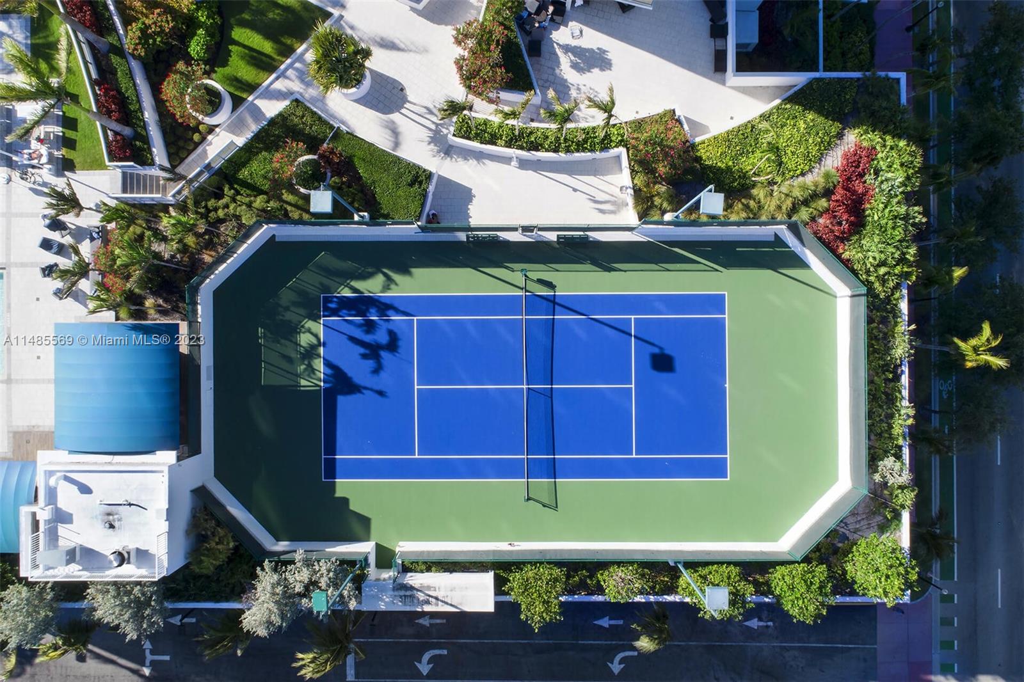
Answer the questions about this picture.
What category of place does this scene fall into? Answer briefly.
sports ground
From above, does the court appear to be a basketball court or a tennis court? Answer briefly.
tennis court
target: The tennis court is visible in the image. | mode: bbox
[213,229,839,571]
